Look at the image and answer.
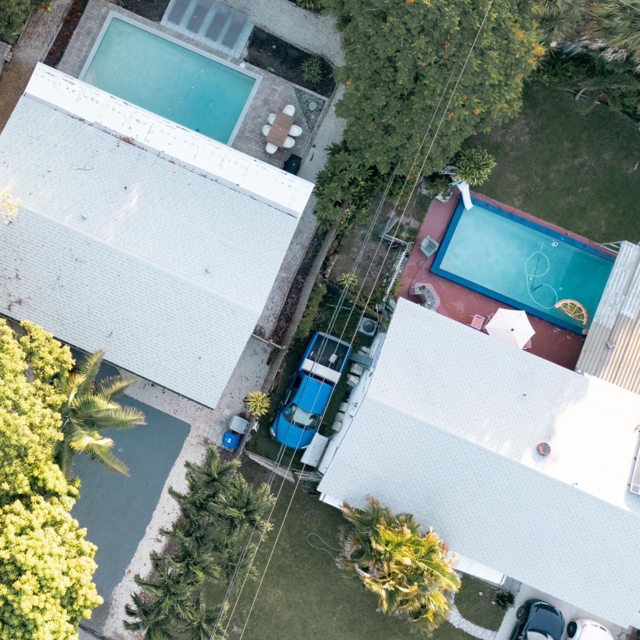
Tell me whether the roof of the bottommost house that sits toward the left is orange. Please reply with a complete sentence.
No, the roof of the bottommost house that sits toward the left is white.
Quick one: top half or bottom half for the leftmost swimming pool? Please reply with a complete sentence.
It is in the top half that the leftmost swimming pool appears.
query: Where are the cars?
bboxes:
[563,612,621,640]
[502,593,566,640]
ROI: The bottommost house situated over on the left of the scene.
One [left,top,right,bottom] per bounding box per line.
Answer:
[0,59,317,410]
